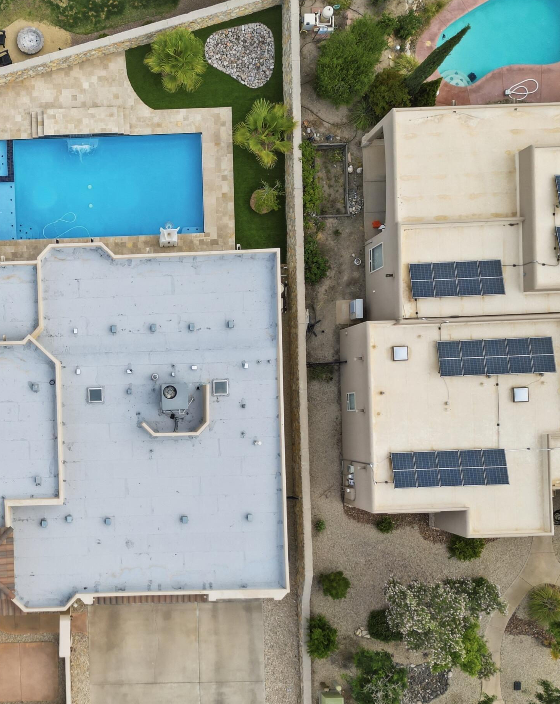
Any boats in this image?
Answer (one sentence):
No, no boat is visible in the scene.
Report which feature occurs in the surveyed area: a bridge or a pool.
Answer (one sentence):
I can see a pool in this picture.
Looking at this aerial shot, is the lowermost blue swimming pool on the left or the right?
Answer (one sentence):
The lowermost blue swimming pool appears in the left half of the scene.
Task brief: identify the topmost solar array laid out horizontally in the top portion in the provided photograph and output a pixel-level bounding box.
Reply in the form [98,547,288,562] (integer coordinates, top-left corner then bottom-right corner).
[409,260,505,298]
